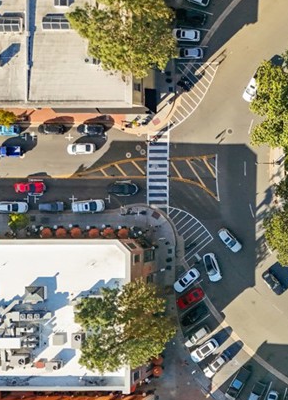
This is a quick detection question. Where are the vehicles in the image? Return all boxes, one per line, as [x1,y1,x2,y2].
[0,200,30,214]
[261,269,287,296]
[180,301,212,326]
[174,28,202,42]
[38,200,66,214]
[266,389,280,400]
[242,71,262,101]
[245,378,270,400]
[15,180,48,194]
[201,347,236,378]
[68,141,97,155]
[202,251,224,283]
[176,288,206,309]
[39,121,68,136]
[71,198,106,212]
[222,366,253,400]
[0,144,25,158]
[79,122,107,136]
[177,8,209,26]
[178,48,205,60]
[173,267,202,292]
[216,226,245,254]
[187,0,212,8]
[188,336,221,363]
[182,322,214,350]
